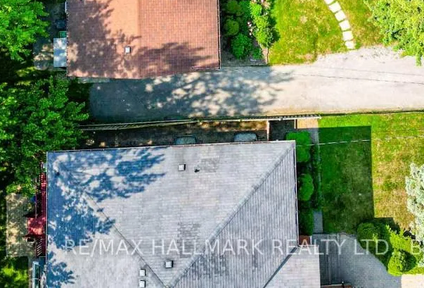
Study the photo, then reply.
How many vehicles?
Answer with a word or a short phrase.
0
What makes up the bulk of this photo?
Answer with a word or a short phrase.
buildings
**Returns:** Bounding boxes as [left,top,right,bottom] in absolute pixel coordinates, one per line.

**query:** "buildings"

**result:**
[45,131,322,288]
[65,0,222,77]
